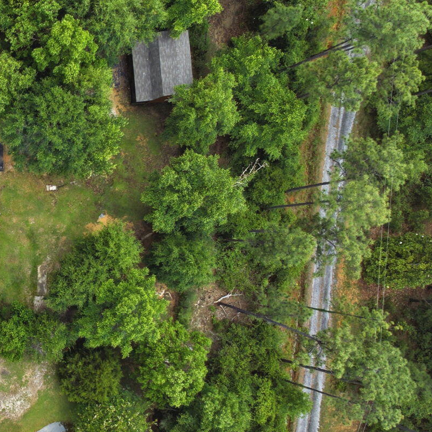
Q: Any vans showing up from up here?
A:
No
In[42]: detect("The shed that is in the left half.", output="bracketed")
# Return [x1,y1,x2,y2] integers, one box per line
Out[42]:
[127,30,192,105]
